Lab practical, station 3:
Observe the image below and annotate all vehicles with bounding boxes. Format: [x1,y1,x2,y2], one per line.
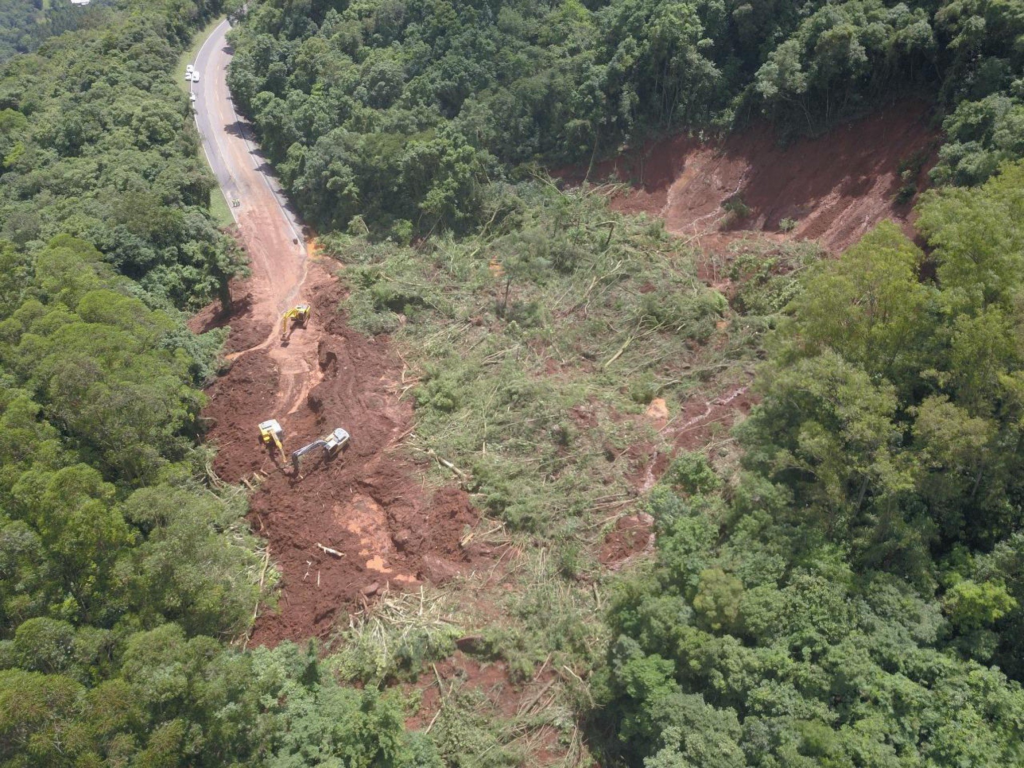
[258,414,287,471]
[187,92,196,100]
[285,425,355,476]
[278,307,313,342]
[183,71,191,81]
[190,71,199,80]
